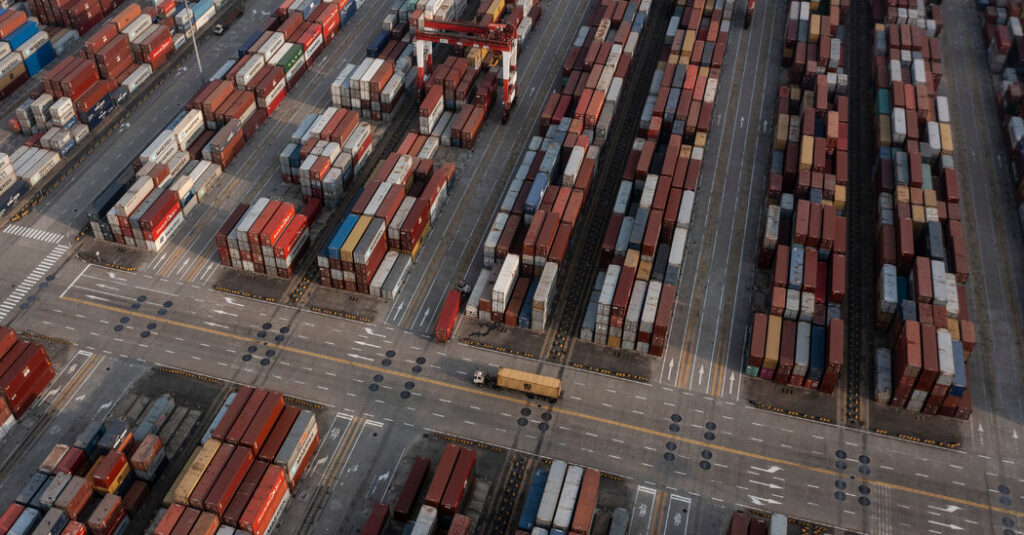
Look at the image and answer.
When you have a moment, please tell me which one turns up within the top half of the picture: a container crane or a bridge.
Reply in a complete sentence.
The one visible within the top half of the picture is a container crane.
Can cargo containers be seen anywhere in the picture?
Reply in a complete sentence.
Yes, a cargo container can be made out from above.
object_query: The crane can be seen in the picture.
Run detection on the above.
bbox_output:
[409,14,520,118]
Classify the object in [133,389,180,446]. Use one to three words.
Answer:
shipping container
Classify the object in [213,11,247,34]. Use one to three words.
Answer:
truck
